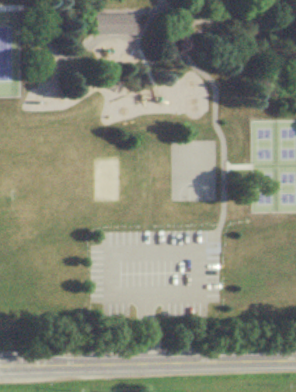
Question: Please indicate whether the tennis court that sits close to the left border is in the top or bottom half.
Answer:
top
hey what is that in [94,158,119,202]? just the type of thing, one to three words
sports court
